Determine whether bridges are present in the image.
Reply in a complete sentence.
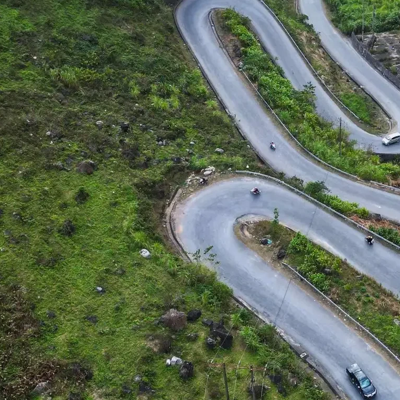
No, no bridge is visible in the scene.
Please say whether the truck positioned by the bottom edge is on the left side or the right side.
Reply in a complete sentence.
You can find the truck positioned by the bottom edge on the right side of the picture.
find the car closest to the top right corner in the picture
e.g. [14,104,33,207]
[381,131,400,146]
